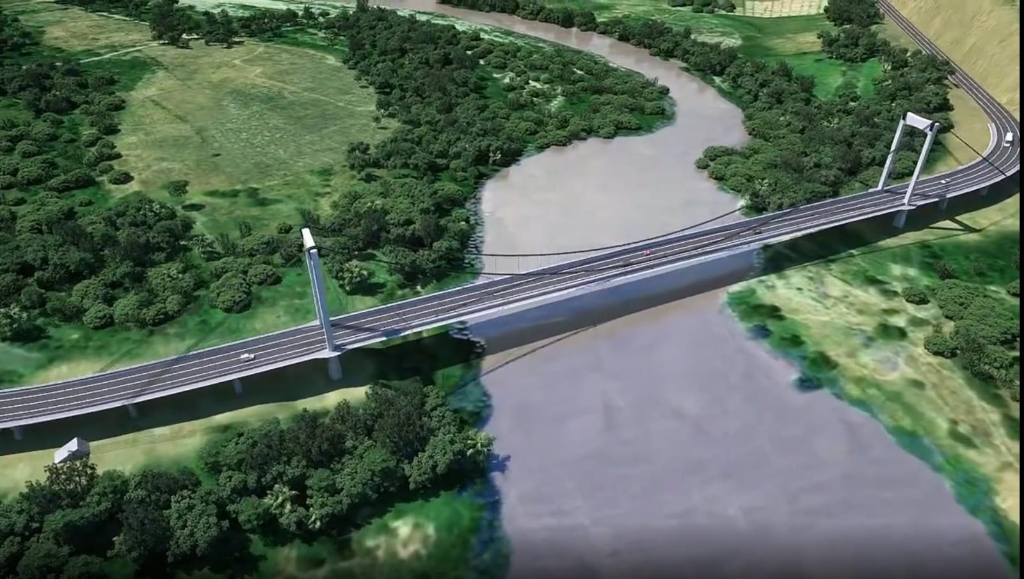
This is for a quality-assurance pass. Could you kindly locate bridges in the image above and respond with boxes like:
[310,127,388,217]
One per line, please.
[0,114,1024,441]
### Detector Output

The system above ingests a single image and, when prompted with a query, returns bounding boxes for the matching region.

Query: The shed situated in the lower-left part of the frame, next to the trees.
[60,440,93,469]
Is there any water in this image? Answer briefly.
Yes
